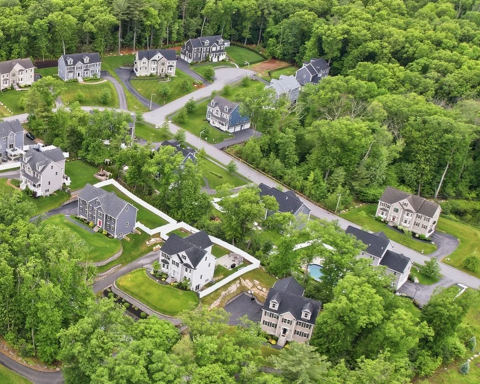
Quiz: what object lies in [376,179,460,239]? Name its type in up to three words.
house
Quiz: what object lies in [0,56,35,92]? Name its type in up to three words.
house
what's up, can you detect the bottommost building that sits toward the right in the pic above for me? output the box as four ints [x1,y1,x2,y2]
[260,263,321,346]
